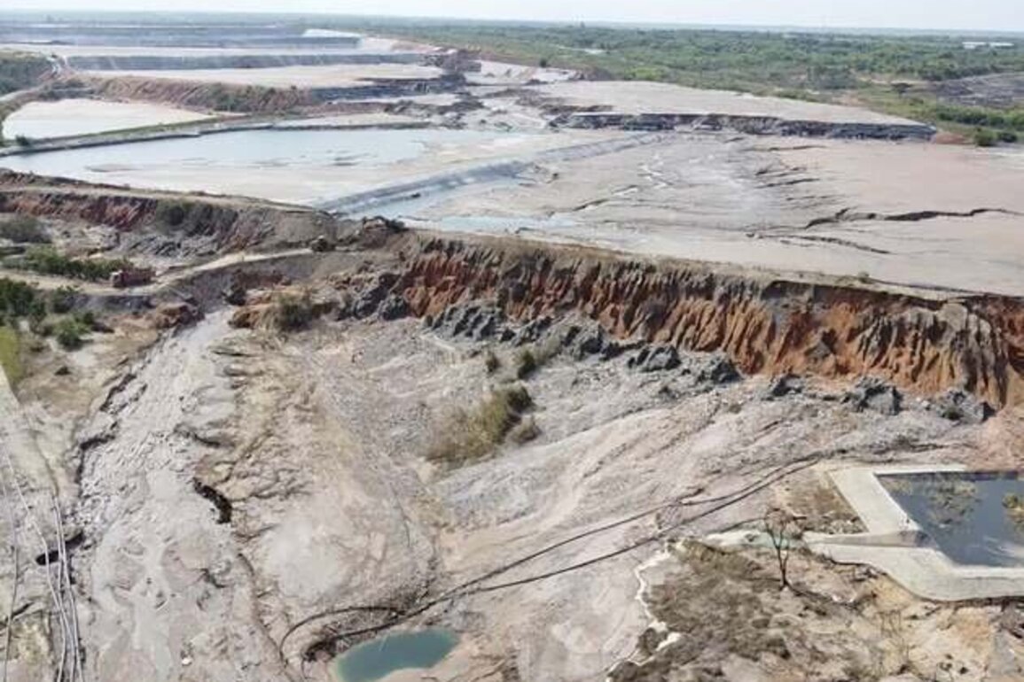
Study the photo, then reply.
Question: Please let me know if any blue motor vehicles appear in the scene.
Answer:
No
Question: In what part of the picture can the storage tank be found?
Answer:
bottom right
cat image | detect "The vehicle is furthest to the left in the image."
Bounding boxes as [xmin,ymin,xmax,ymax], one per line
[107,262,155,286]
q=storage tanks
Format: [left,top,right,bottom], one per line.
[801,467,1024,612]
